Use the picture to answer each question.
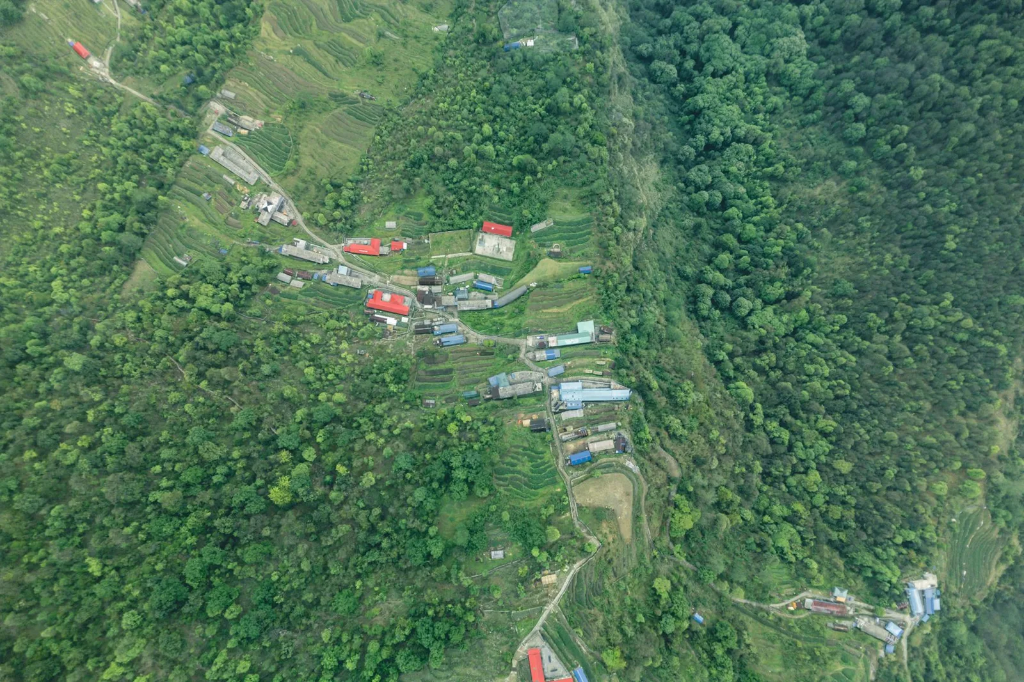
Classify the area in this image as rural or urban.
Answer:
rural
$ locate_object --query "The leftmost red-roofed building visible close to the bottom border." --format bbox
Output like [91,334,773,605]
[528,645,573,682]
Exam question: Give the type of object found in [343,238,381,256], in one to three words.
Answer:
house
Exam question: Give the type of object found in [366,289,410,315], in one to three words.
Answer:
building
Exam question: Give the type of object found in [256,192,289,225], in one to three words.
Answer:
building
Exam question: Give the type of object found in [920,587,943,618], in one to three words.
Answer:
house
